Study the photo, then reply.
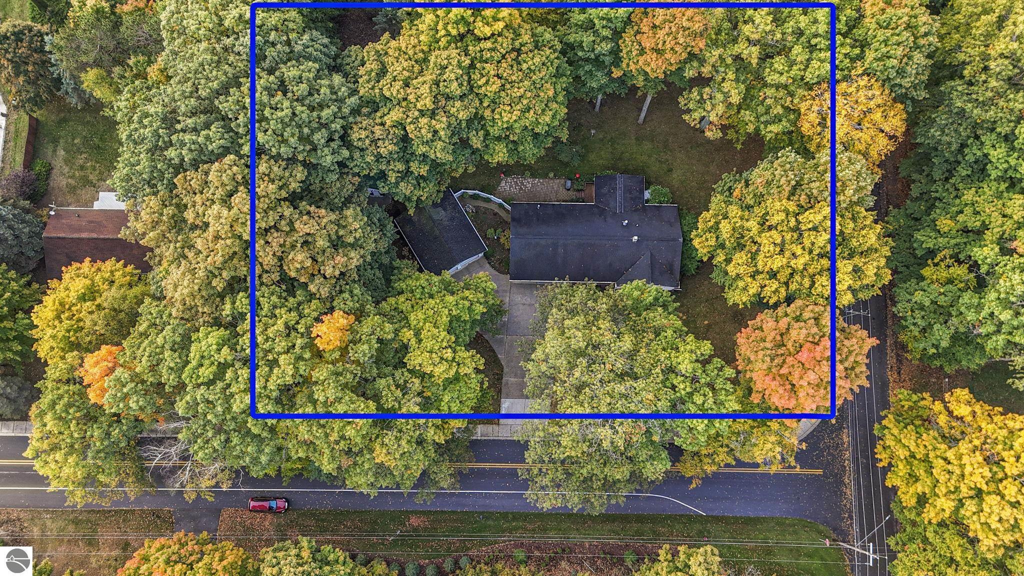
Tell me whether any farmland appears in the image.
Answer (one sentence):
No, there is no farmland in the image.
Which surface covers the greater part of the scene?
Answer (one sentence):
The largest share of the image is taken up by trees.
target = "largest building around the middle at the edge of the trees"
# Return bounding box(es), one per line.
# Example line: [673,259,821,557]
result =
[510,174,684,293]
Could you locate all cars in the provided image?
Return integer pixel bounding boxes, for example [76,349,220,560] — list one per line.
[249,496,291,515]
